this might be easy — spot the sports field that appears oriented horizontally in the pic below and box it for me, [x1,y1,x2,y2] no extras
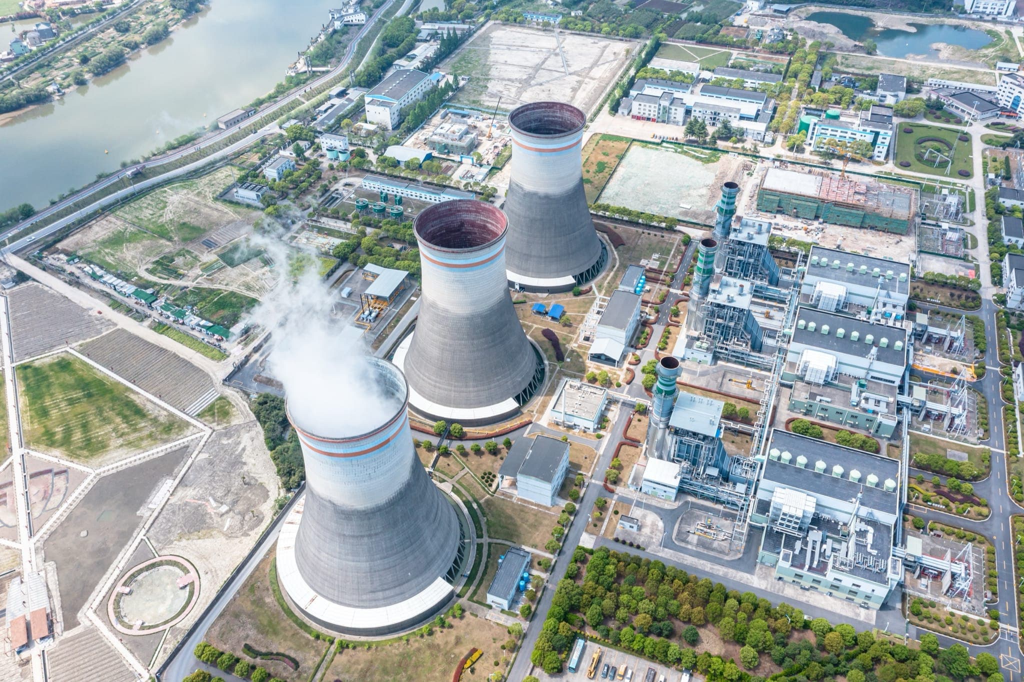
[632,43,730,69]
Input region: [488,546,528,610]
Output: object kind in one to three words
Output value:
shed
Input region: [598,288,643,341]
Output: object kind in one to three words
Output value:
building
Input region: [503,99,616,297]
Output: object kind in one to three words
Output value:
cooling tower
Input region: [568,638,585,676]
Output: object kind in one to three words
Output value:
vehicle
